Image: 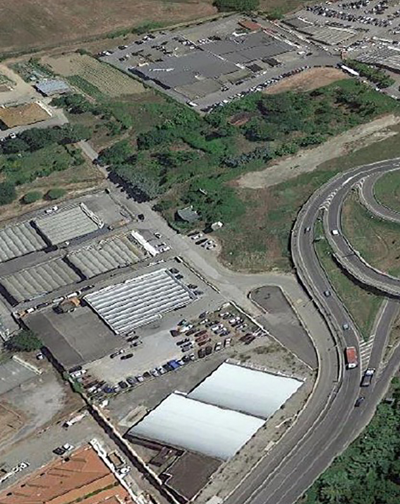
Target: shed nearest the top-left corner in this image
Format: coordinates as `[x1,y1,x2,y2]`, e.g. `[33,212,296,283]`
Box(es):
[34,78,70,97]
